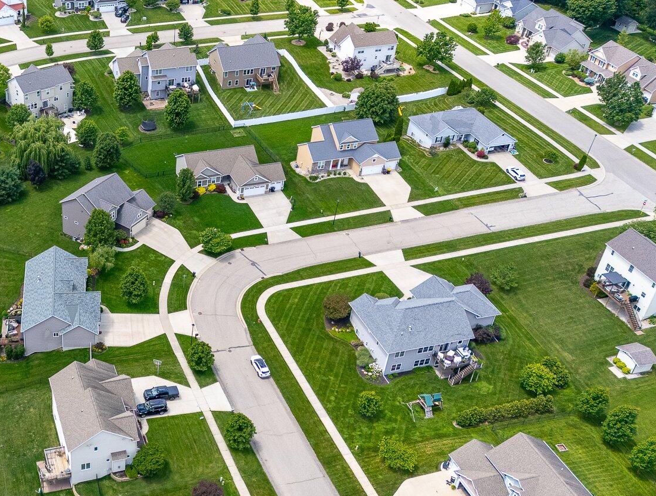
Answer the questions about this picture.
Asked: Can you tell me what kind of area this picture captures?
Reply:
residential area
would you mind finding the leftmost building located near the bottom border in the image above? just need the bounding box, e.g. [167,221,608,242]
[42,359,144,488]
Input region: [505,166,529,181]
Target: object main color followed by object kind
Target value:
white car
